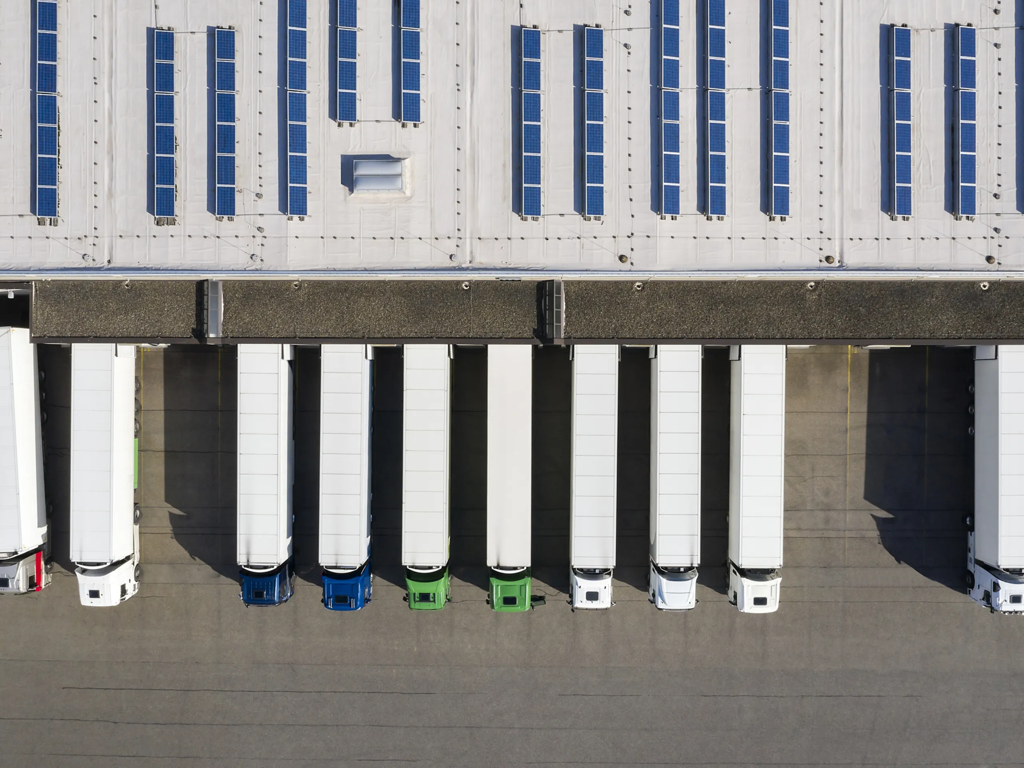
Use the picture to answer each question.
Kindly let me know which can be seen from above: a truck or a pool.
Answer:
truck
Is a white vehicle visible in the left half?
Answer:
Yes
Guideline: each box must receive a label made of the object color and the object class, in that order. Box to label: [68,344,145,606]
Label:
white truck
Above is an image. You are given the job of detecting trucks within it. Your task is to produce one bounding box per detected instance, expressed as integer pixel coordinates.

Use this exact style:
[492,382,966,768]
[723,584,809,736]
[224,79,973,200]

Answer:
[0,324,59,594]
[68,344,145,606]
[400,344,454,612]
[566,344,622,617]
[484,344,545,613]
[645,344,705,613]
[317,344,376,612]
[962,344,1024,615]
[234,344,298,610]
[723,344,788,614]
